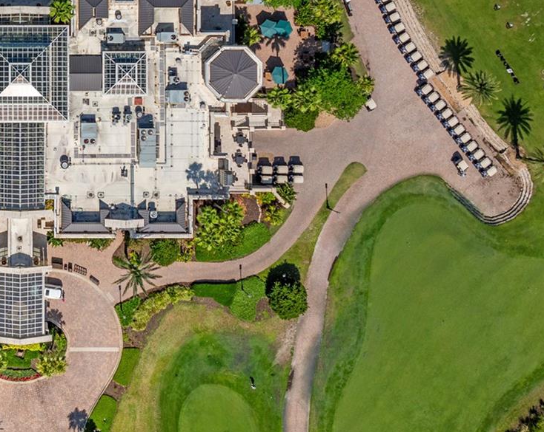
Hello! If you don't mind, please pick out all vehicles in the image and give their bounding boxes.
[271,174,289,183]
[287,163,304,172]
[449,155,469,172]
[416,81,435,97]
[458,139,479,154]
[377,0,397,14]
[272,164,289,172]
[361,96,377,112]
[434,105,454,120]
[409,58,429,72]
[420,90,440,104]
[256,164,274,173]
[397,40,417,54]
[286,174,303,183]
[472,155,493,170]
[440,113,461,128]
[453,131,473,146]
[478,164,499,178]
[49,284,68,298]
[446,122,466,137]
[414,67,435,80]
[465,147,485,162]
[256,174,274,183]
[391,30,411,44]
[382,10,402,24]
[387,20,406,35]
[403,50,422,64]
